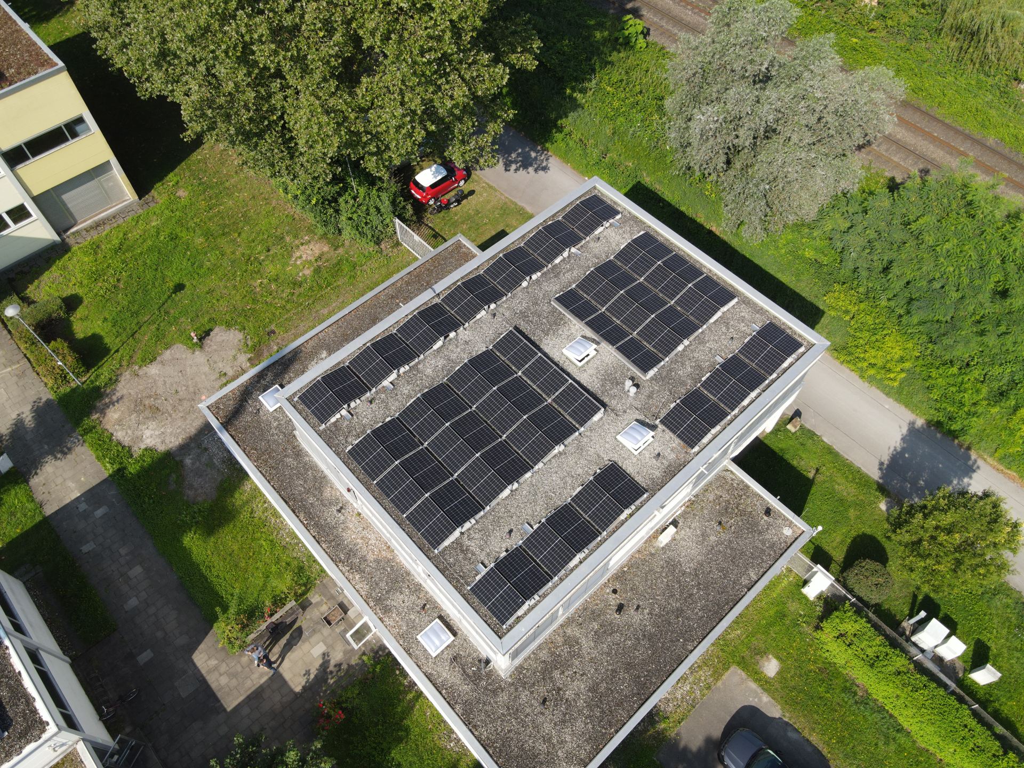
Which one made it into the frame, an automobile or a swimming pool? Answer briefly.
automobile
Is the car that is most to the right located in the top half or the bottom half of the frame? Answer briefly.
bottom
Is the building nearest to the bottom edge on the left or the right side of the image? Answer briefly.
left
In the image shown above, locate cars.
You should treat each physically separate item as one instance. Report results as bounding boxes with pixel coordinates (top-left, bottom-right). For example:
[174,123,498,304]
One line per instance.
[406,157,469,204]
[718,724,796,768]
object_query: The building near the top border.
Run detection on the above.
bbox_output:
[0,0,141,272]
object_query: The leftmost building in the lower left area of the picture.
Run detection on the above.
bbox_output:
[0,565,131,768]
